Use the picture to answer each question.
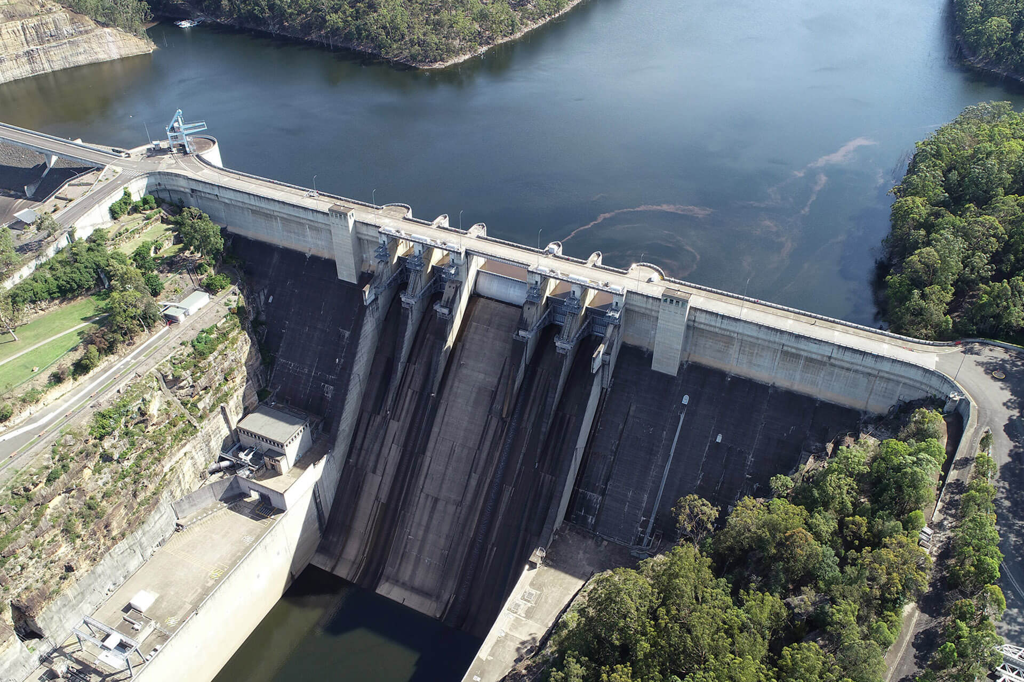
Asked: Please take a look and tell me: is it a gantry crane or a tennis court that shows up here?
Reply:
gantry crane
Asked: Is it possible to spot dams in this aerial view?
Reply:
Yes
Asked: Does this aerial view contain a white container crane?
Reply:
Yes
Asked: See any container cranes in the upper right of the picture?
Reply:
No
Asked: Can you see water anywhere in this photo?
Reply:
Yes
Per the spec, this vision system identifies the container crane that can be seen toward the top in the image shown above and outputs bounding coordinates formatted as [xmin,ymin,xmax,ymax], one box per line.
[162,105,218,155]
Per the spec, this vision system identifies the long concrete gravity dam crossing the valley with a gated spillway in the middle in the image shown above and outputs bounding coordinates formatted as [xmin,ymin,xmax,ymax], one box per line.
[114,134,980,635]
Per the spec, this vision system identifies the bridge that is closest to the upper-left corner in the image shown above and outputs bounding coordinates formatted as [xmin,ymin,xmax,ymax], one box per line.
[0,122,125,191]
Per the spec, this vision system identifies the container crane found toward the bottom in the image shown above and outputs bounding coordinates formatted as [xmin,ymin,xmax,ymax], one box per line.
[67,611,143,674]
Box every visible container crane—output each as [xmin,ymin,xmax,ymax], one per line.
[162,105,218,155]
[67,611,143,674]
